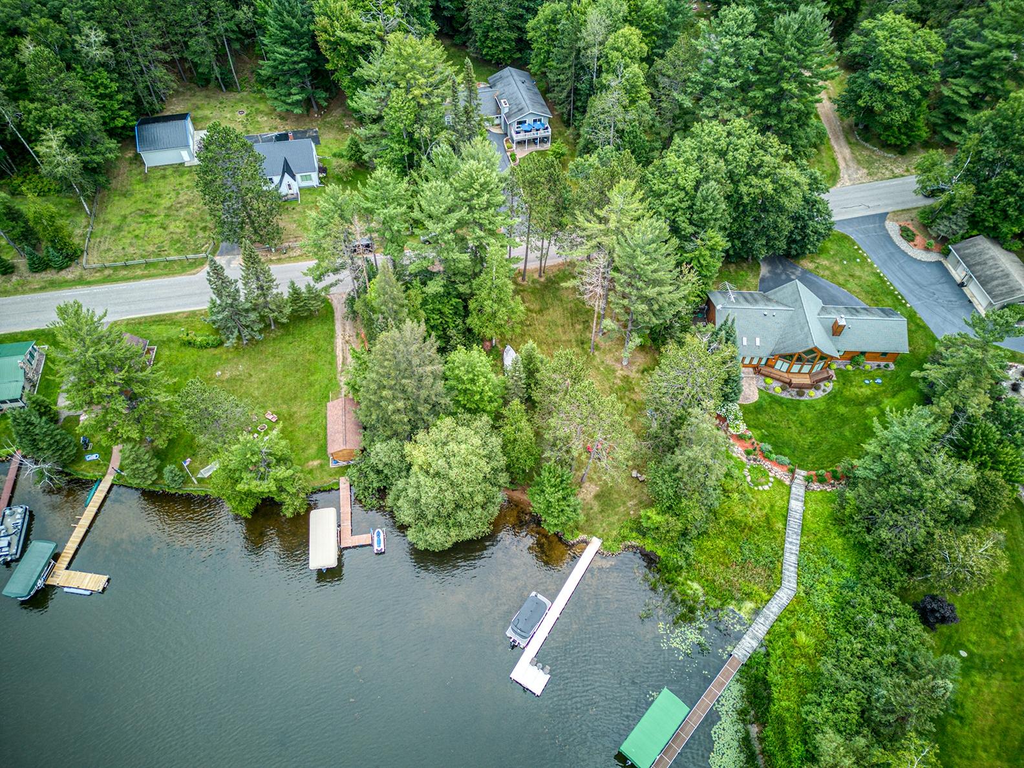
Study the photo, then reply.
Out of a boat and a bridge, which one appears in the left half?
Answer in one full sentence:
What appears in the left half is a boat.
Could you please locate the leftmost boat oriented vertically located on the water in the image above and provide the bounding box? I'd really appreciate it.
[0,505,29,563]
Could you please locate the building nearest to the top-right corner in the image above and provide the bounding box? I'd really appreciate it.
[952,234,1024,310]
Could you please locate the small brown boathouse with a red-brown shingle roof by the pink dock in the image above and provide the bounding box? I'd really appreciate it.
[327,391,365,469]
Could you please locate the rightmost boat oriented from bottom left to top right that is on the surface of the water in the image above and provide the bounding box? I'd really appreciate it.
[508,593,549,645]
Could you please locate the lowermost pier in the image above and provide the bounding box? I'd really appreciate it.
[650,653,746,768]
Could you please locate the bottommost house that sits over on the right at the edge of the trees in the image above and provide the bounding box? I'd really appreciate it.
[706,275,910,393]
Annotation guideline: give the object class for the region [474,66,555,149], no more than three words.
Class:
house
